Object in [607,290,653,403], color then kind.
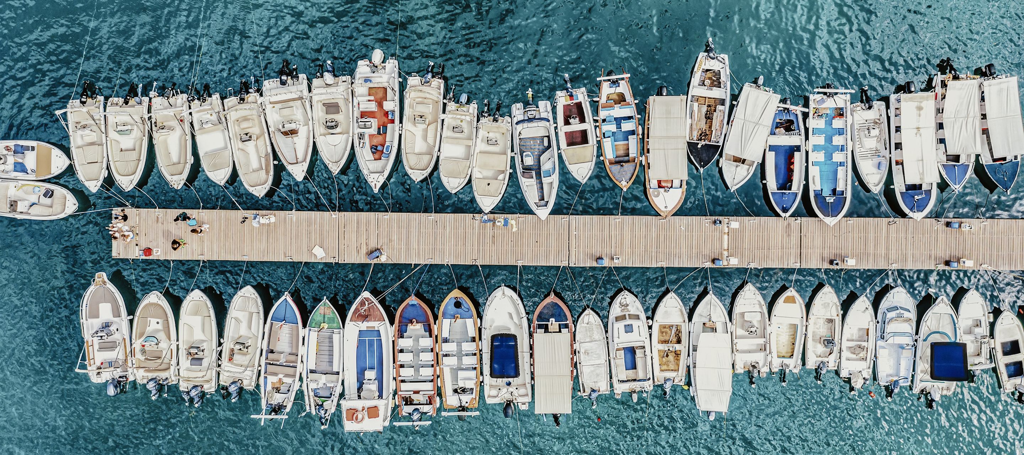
white boat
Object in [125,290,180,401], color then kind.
white boat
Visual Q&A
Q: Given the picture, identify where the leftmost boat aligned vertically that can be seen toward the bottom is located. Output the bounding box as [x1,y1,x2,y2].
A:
[76,271,136,397]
